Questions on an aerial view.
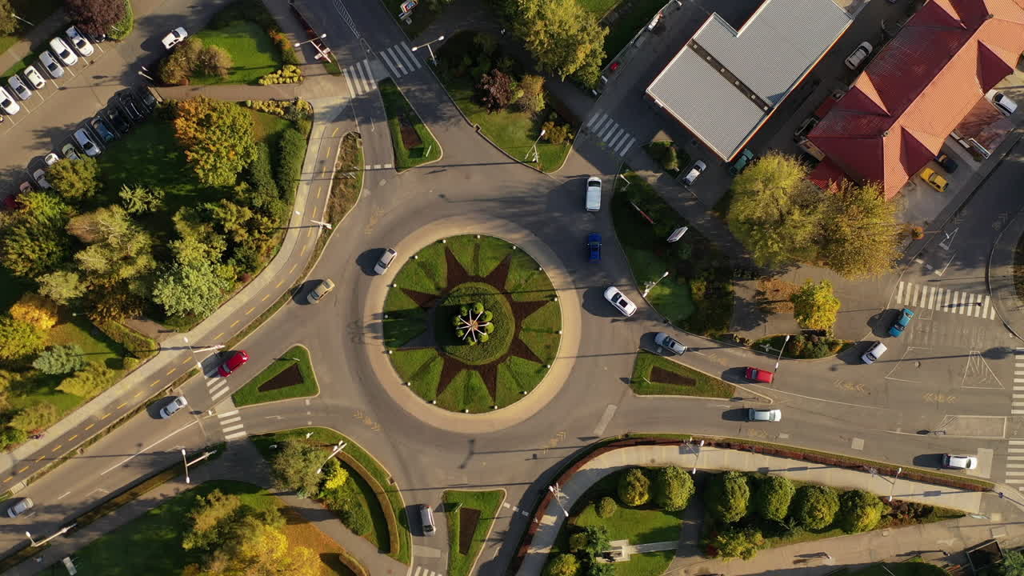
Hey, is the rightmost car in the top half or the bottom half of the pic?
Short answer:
top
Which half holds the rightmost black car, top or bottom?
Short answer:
top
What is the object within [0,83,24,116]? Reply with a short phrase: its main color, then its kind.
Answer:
white car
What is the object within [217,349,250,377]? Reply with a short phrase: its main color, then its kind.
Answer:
red car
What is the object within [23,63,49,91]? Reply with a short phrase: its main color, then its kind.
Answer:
white car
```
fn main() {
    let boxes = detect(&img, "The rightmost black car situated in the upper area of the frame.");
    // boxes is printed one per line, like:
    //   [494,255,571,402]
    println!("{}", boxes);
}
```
[931,151,961,176]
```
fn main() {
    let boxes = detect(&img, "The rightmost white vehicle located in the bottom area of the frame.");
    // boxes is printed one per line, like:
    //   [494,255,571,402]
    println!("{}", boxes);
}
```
[941,453,976,471]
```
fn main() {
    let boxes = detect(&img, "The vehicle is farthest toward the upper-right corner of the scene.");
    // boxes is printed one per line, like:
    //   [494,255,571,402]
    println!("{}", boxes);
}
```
[983,88,1019,117]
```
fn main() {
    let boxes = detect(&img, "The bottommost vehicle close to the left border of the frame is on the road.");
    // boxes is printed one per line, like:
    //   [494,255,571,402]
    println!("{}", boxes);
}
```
[6,495,36,518]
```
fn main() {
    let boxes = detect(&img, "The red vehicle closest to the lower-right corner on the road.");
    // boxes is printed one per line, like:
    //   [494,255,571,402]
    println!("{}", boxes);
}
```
[744,365,775,383]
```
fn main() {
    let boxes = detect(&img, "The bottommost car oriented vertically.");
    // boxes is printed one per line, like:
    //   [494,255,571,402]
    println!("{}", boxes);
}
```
[420,504,436,537]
